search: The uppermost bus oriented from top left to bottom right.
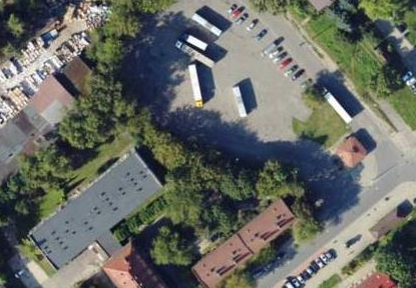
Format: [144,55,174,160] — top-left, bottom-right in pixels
[192,13,222,36]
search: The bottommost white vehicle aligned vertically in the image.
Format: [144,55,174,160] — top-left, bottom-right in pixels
[233,86,246,117]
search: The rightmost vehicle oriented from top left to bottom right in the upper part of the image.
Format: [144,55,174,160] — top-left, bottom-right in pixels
[321,89,351,124]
